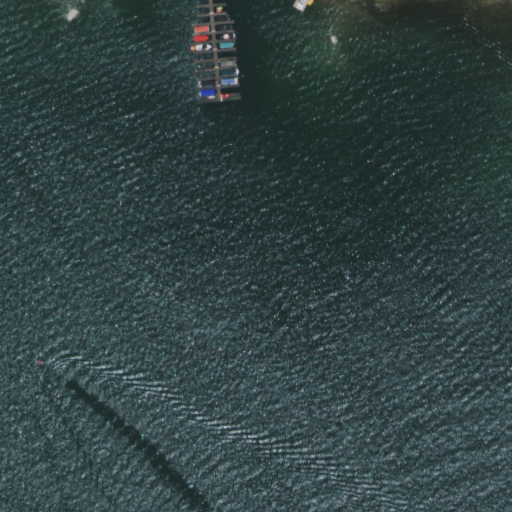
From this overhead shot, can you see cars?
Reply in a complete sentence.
No, no car is visible in the view.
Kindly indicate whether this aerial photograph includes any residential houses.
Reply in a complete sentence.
No, the scene contains no residential house.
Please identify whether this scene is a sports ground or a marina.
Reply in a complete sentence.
This image shows a marina.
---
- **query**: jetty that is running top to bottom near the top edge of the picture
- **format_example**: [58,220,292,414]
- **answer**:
[191,0,241,104]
